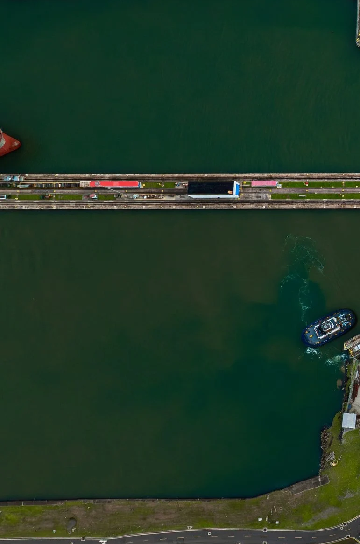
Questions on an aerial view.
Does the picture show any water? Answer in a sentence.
Yes, there's water in this view.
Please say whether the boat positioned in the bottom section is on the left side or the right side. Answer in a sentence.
The boat positioned in the bottom section sits on the right side.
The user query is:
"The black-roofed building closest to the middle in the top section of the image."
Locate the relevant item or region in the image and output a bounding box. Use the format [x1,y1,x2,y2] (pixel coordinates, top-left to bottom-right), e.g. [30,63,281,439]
[187,181,239,197]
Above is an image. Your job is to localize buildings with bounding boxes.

[187,181,239,197]
[252,180,279,187]
[90,181,144,188]
[342,413,358,429]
